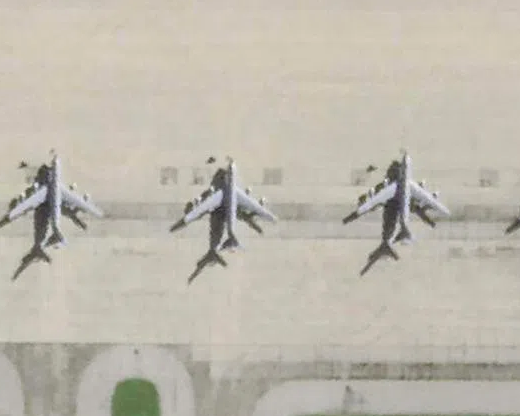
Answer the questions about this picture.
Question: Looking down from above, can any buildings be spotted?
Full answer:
No, the frame has no building in it.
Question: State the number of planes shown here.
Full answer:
In total, 3 planes can be seen.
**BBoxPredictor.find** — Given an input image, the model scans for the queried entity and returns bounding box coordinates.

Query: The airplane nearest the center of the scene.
[187,160,277,253]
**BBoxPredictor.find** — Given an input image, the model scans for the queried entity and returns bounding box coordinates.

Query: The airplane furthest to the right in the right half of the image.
[361,154,451,246]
